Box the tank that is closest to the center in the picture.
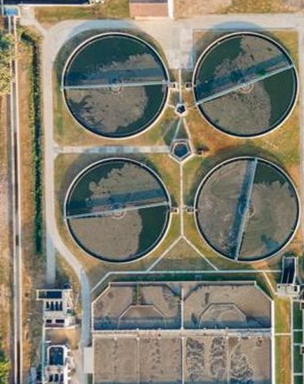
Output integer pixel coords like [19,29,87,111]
[65,159,173,264]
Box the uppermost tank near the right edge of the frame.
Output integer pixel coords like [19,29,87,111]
[193,32,299,138]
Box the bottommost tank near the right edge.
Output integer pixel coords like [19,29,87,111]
[194,156,301,263]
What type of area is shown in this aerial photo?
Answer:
industrial area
